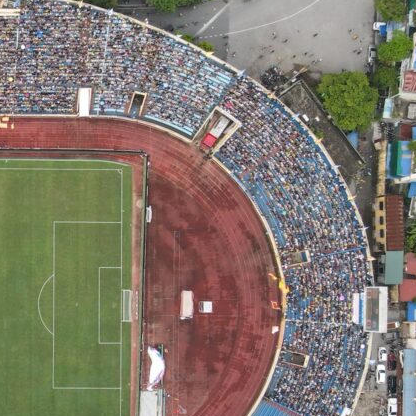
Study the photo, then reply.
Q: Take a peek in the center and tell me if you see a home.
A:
No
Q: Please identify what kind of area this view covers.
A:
sports ground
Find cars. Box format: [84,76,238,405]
[375,345,386,363]
[385,399,395,416]
[384,352,395,370]
[374,364,384,383]
[365,45,376,65]
[385,374,395,393]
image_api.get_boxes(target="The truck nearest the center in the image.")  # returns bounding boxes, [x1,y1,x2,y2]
[200,114,228,149]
